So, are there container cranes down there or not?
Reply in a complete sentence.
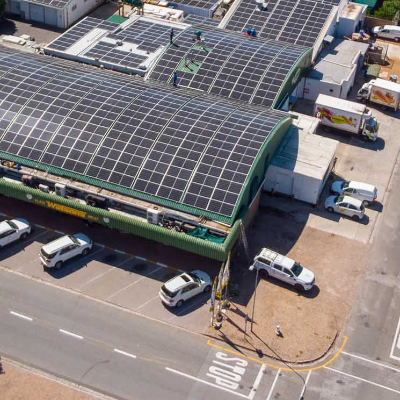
No, no container crane is visible in the scene.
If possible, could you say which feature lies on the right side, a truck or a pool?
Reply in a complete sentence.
The one visible on the right side is a truck.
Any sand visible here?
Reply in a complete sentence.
No, the picture contains no sand.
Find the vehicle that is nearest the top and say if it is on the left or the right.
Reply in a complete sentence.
It is on the right.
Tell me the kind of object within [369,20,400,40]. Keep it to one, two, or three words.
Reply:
vehicle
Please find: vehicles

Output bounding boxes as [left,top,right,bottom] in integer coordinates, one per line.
[330,175,381,203]
[0,218,34,249]
[156,265,215,305]
[369,20,400,40]
[355,75,400,110]
[36,231,97,268]
[311,98,381,145]
[323,193,369,219]
[251,246,320,290]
